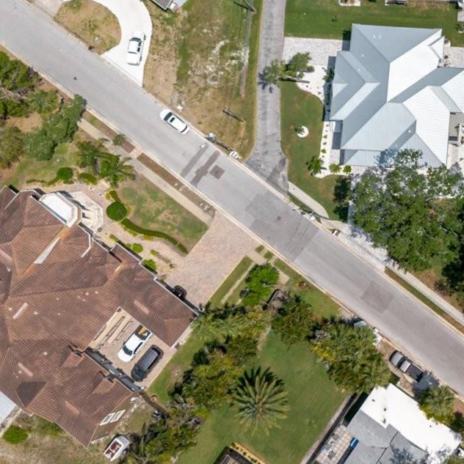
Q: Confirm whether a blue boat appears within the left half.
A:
No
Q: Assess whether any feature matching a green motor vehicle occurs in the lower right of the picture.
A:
No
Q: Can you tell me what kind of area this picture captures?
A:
residential area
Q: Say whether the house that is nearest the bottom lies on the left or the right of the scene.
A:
right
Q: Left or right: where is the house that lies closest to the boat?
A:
left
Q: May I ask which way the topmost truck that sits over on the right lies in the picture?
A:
at an angle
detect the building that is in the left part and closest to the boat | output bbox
[0,187,207,448]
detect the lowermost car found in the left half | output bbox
[132,345,165,382]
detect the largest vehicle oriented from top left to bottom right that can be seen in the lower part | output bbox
[390,351,426,384]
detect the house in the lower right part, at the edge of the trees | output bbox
[335,383,462,464]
